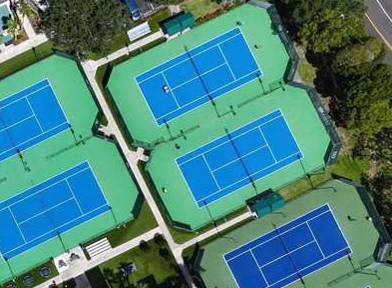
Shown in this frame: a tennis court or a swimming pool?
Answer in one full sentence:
It is a tennis court that can be seen here.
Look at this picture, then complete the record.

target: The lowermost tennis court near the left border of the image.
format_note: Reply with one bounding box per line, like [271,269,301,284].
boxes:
[0,133,144,281]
